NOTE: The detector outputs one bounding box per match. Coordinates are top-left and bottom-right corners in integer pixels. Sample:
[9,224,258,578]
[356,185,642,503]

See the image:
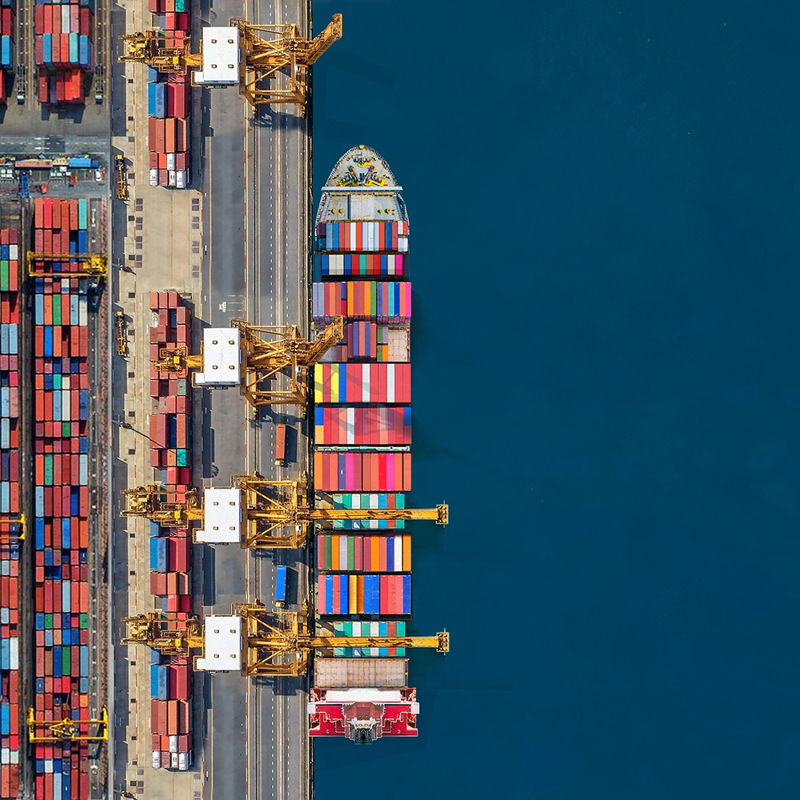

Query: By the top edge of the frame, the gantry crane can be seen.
[119,8,344,121]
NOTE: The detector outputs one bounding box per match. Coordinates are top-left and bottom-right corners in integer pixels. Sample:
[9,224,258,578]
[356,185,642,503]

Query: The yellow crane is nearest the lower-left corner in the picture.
[28,708,111,742]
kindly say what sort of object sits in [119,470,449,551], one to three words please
container crane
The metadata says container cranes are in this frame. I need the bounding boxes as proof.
[119,8,344,121]
[119,470,449,551]
[28,708,111,742]
[119,587,449,679]
[151,312,344,407]
[29,252,112,284]
[0,512,30,540]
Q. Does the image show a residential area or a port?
port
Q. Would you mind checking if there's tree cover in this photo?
No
